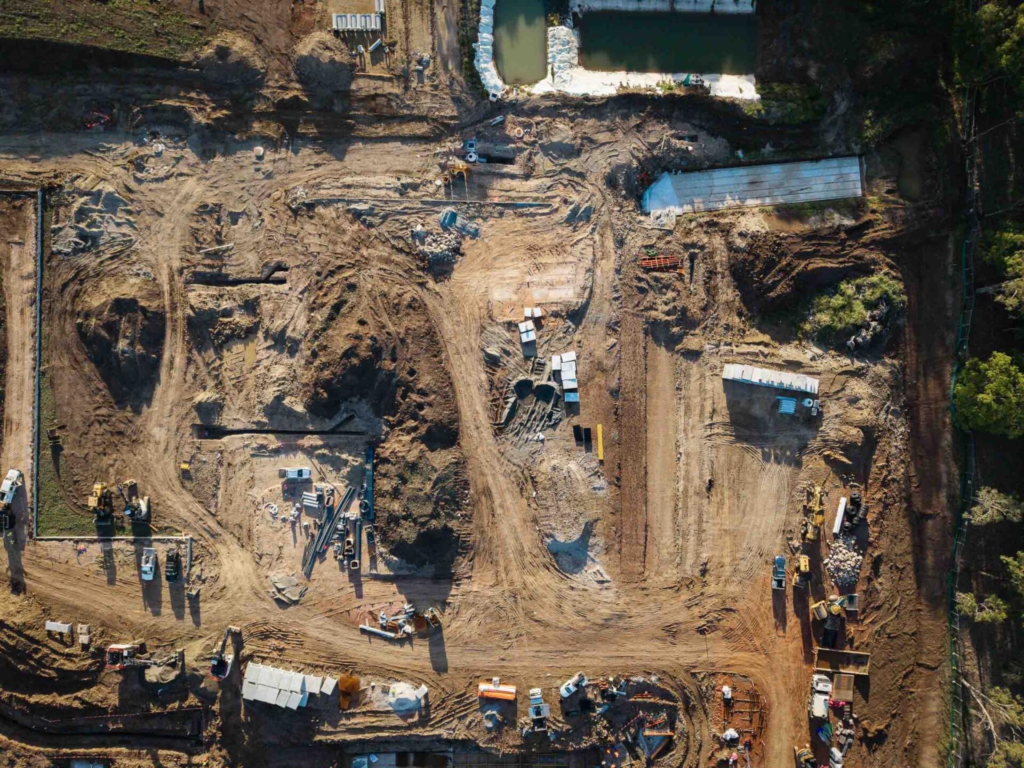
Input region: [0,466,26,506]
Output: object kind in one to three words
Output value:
truck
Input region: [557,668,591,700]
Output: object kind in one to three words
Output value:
truck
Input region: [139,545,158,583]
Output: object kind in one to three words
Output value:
vehicle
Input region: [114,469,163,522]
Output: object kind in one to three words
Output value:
work vehicle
